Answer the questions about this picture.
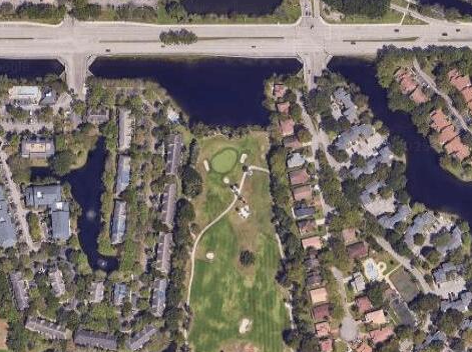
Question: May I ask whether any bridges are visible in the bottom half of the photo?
No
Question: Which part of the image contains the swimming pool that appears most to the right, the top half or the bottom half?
bottom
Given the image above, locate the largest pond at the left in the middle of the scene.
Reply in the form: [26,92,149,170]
[31,137,118,273]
